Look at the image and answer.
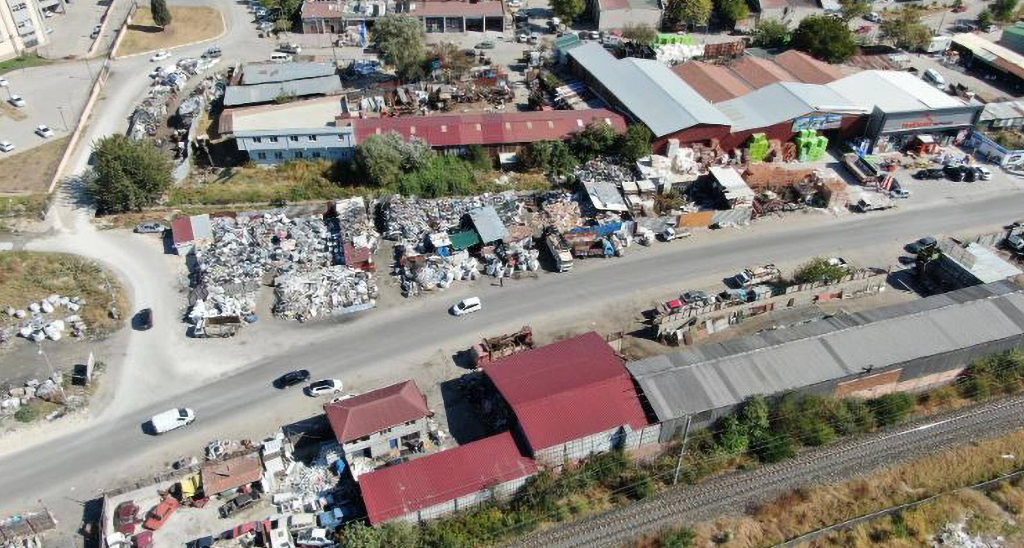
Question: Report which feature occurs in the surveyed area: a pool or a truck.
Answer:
truck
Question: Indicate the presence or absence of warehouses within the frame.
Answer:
Yes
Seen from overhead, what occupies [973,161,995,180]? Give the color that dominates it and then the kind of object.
white car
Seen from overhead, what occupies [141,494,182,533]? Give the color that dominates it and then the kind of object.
red car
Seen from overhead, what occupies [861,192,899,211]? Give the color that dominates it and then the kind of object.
white vehicle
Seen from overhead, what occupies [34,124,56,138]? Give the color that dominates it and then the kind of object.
white car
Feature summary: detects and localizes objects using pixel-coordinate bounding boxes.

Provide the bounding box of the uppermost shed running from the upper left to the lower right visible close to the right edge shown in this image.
[947,32,1024,106]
